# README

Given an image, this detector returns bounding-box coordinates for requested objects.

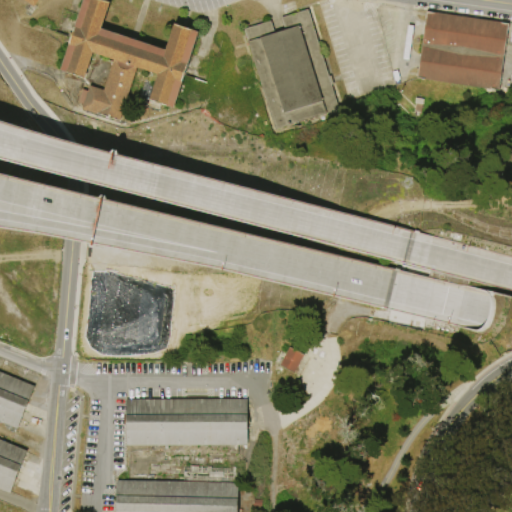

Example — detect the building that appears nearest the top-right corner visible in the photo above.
[419,10,510,88]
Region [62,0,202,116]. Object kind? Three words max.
building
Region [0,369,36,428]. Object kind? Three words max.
building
